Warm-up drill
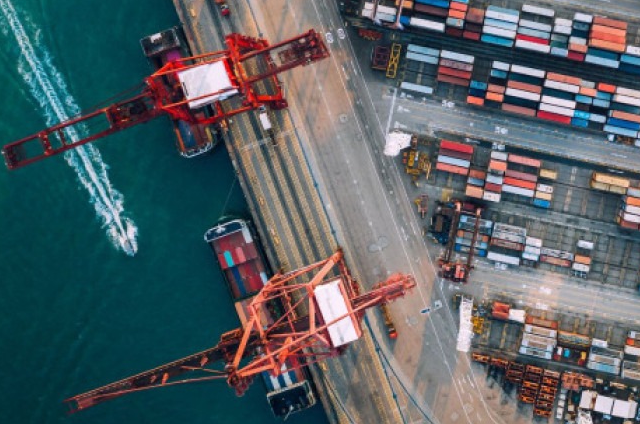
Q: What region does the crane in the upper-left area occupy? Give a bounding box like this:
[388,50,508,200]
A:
[0,28,322,175]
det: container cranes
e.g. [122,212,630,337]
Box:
[374,0,405,32]
[437,197,481,276]
[0,28,322,175]
[53,242,414,417]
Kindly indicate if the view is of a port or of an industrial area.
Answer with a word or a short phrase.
port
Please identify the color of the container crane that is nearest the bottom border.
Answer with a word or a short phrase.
red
